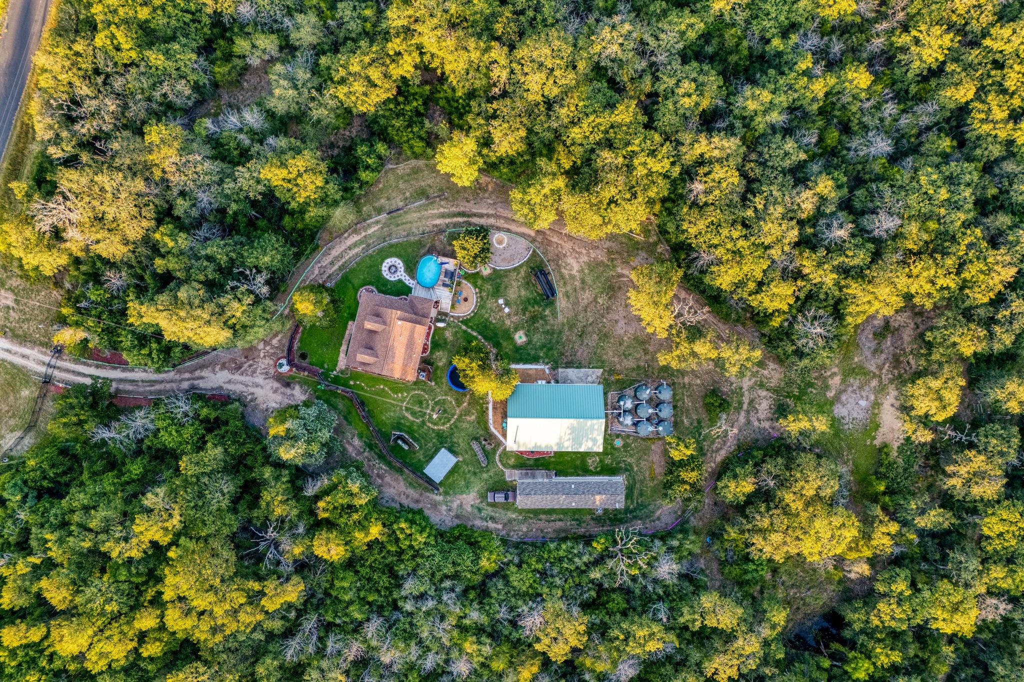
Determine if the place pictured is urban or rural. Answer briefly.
rural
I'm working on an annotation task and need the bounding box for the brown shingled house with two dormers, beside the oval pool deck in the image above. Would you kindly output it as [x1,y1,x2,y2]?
[345,292,433,381]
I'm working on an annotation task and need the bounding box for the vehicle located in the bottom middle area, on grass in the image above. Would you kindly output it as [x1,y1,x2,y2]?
[488,491,516,503]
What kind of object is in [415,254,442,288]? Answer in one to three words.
swimming pool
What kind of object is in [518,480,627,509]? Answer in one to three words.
house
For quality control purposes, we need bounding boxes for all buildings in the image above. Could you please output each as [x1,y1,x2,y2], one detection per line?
[424,447,458,482]
[506,383,605,452]
[345,292,433,381]
[518,480,627,509]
